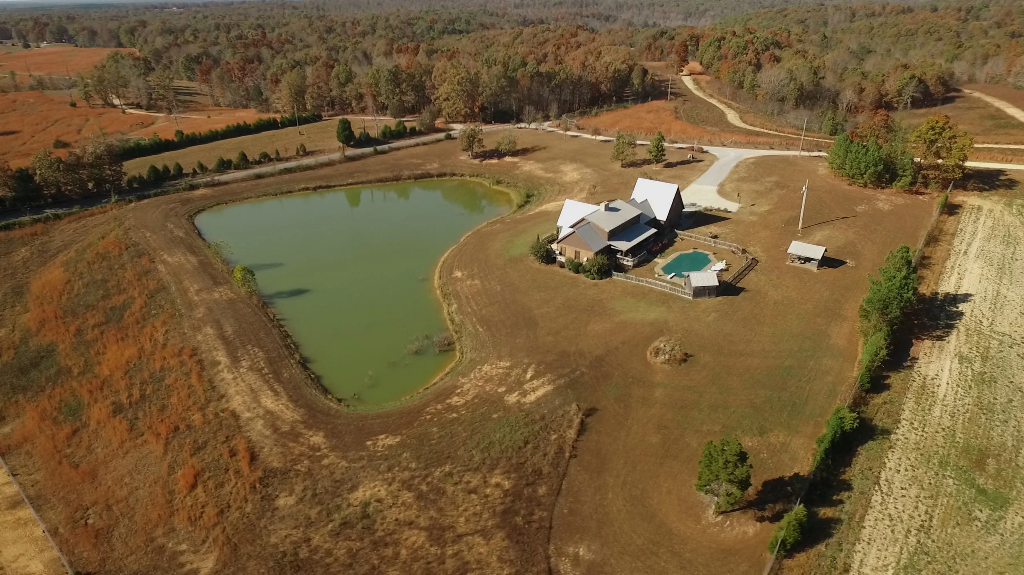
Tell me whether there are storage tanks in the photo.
No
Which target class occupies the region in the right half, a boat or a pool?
pool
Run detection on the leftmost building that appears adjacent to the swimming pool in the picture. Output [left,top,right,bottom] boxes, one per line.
[550,178,686,271]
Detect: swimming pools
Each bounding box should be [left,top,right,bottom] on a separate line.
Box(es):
[660,250,713,278]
